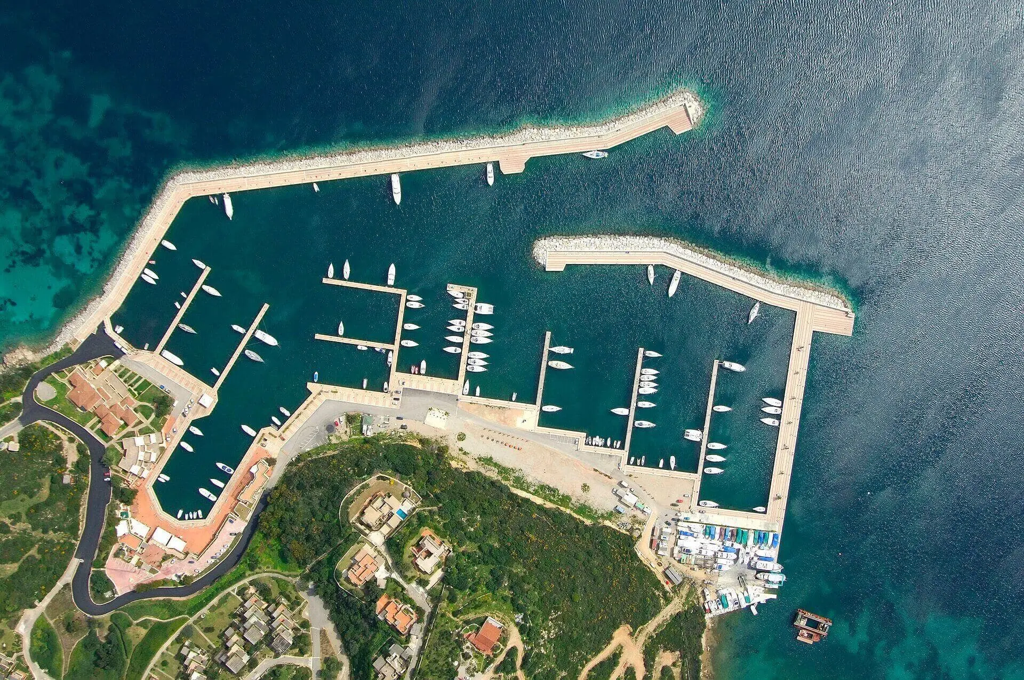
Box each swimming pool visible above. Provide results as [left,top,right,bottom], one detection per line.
[396,498,416,519]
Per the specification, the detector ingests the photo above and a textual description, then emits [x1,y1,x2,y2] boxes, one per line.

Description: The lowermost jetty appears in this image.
[747,581,780,615]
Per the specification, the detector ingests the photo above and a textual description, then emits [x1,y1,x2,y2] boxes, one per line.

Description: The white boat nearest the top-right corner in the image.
[749,301,763,323]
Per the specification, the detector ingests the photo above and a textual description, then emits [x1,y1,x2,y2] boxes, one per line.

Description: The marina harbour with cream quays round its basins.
[104,317,775,526]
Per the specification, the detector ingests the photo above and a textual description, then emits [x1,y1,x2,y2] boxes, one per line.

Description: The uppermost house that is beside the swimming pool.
[361,491,402,535]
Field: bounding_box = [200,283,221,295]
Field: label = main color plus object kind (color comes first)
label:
white boat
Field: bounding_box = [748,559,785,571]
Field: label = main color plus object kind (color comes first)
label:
white boat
